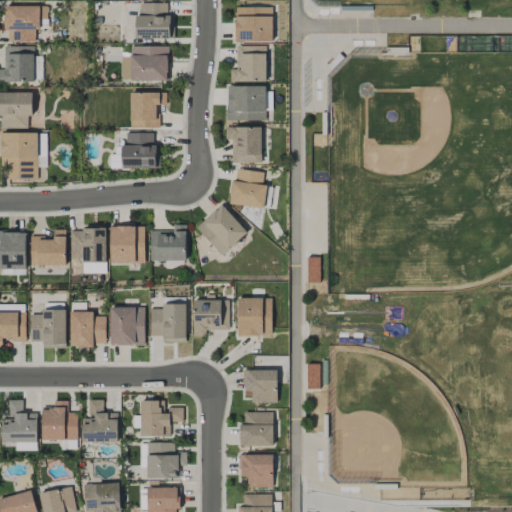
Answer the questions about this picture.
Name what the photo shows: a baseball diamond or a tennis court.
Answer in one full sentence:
This aerial view contains a baseball diamond.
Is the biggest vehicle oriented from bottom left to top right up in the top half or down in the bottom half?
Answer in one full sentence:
It is in the top half that the biggest vehicle oriented from bottom left to top right appears.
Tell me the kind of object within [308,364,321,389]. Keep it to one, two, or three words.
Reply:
building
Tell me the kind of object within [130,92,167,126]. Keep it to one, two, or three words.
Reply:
house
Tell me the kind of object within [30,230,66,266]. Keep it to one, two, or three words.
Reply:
house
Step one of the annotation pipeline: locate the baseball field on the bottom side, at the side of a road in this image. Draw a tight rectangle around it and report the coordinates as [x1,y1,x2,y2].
[330,346,467,484]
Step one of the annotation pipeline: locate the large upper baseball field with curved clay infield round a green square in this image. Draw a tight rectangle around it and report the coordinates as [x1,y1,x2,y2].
[329,52,512,292]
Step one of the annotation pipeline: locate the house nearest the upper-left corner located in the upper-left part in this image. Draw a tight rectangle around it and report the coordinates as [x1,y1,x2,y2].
[4,5,49,42]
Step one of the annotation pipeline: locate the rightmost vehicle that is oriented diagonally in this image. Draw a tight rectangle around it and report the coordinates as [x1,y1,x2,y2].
[328,50,348,71]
